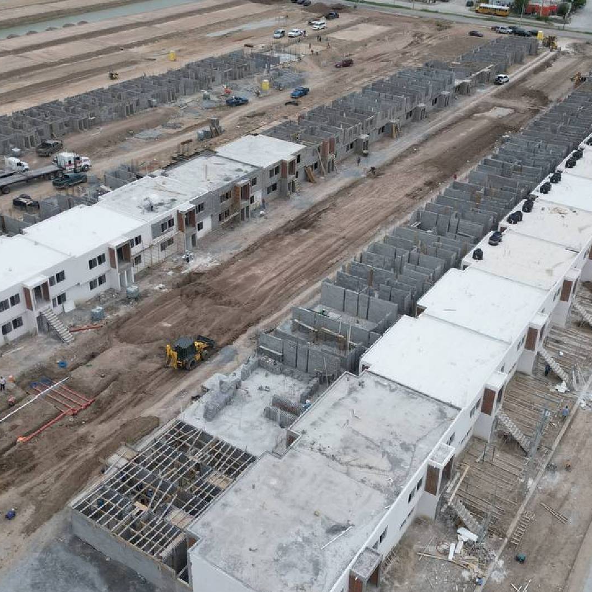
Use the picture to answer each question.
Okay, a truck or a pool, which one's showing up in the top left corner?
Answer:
truck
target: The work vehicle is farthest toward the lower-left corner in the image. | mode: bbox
[169,330,226,368]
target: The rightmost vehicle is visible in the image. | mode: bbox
[566,73,588,89]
